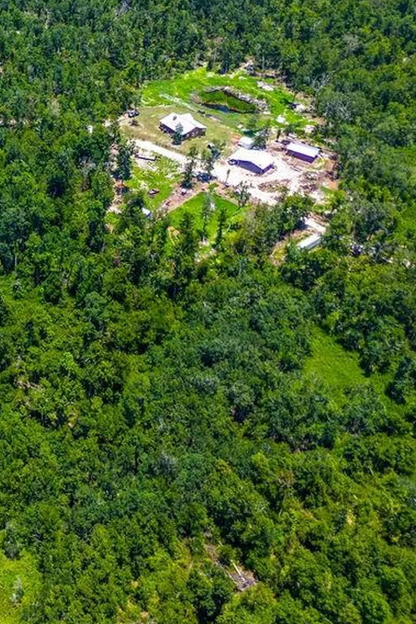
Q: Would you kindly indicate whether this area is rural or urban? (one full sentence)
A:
The area is rural.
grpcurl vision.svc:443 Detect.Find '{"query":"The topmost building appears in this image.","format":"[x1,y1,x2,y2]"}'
[158,112,218,140]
